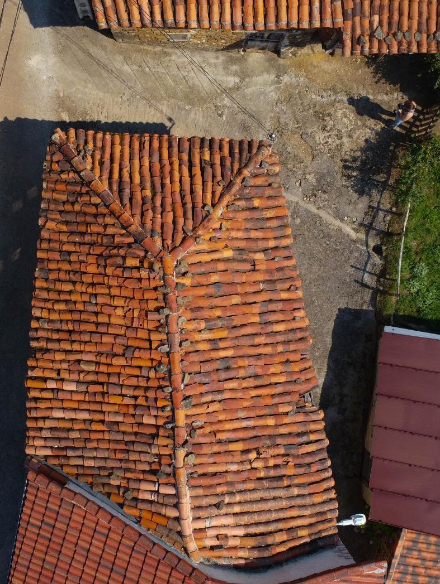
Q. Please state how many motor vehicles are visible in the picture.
0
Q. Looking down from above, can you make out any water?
No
